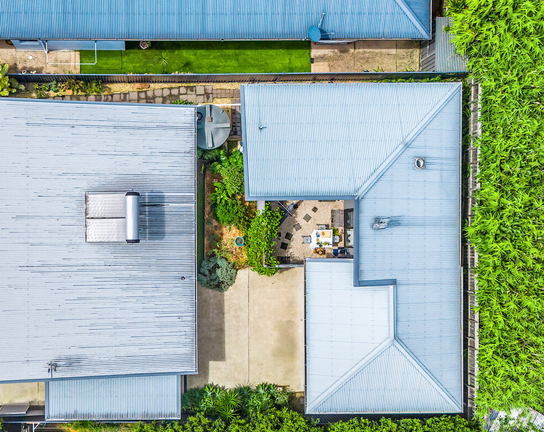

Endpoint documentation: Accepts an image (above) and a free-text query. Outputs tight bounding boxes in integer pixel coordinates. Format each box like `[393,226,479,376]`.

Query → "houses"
[0,0,433,53]
[241,82,464,417]
[0,98,199,384]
